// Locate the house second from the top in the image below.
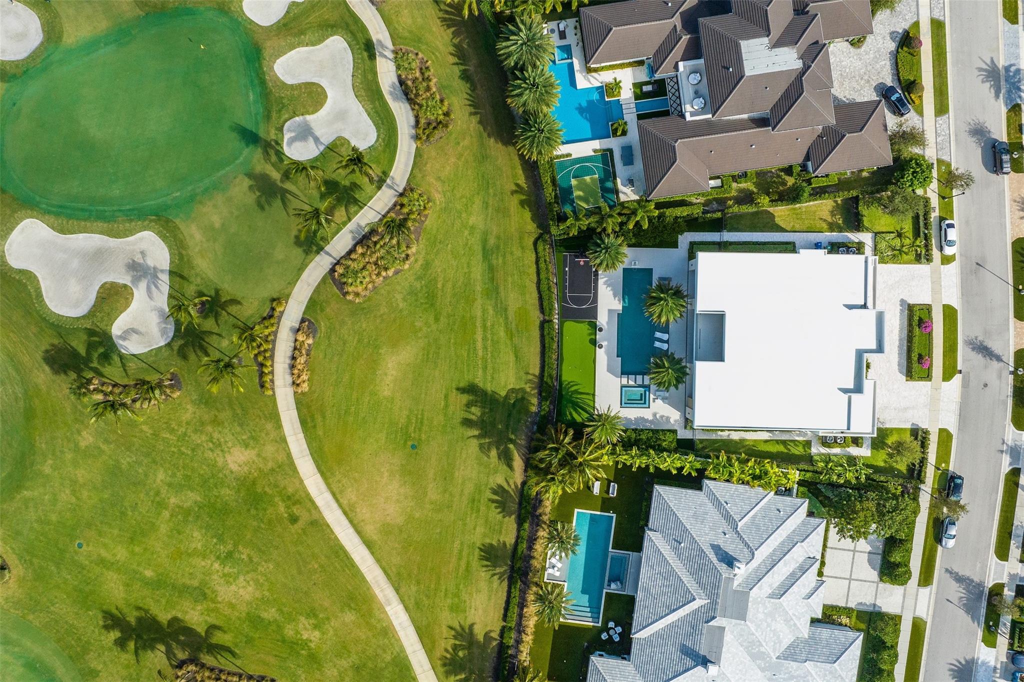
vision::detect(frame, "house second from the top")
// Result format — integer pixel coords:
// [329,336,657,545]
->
[685,249,887,437]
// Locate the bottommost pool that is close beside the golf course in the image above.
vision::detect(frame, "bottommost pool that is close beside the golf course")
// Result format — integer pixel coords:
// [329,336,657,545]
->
[545,509,616,625]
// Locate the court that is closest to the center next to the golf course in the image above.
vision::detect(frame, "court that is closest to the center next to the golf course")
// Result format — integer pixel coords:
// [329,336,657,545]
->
[562,254,598,320]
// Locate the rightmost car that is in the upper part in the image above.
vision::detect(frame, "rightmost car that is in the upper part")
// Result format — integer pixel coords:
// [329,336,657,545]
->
[992,139,1011,174]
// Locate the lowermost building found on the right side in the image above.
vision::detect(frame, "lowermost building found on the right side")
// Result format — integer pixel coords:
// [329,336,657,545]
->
[586,478,864,682]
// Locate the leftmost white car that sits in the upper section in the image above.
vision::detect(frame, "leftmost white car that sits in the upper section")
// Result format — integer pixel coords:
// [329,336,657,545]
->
[939,220,955,254]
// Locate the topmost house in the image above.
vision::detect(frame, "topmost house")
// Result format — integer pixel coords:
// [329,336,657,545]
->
[579,0,894,200]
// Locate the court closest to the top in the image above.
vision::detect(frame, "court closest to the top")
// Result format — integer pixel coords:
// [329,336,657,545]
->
[555,151,620,216]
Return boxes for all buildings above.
[586,478,864,682]
[685,249,887,437]
[579,0,894,200]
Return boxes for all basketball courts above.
[555,151,620,216]
[562,254,598,320]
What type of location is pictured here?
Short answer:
golf course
